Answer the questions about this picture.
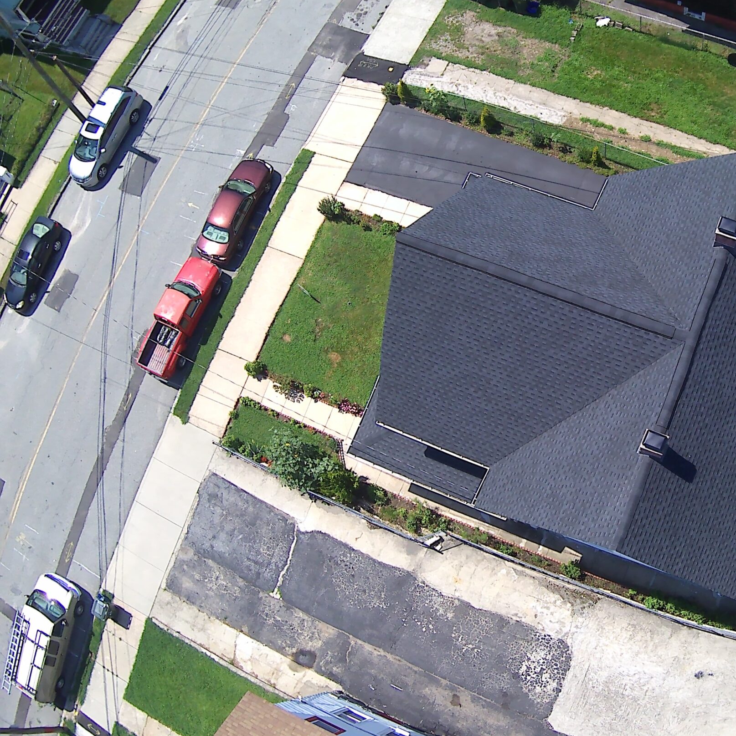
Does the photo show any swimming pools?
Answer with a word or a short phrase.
No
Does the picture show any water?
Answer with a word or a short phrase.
No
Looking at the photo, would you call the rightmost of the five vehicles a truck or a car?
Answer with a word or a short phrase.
car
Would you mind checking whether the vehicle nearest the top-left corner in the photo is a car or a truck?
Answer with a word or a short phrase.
car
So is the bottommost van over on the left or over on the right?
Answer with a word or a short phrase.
left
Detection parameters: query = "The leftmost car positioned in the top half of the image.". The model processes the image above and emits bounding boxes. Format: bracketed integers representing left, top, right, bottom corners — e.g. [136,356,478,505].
[0,218,69,311]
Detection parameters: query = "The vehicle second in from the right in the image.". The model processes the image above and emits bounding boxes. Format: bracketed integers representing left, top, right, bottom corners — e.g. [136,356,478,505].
[126,256,223,381]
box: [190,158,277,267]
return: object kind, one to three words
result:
car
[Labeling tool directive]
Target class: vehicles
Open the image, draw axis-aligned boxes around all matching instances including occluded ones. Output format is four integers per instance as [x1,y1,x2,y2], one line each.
[0,218,69,311]
[190,158,277,267]
[126,256,223,381]
[0,578,88,709]
[64,81,146,188]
